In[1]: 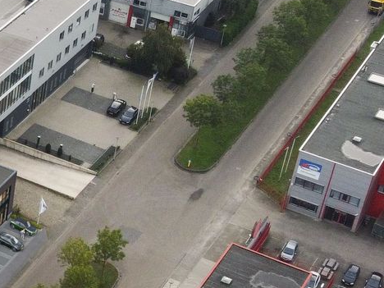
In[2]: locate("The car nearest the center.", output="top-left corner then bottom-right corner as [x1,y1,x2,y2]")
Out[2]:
[119,106,138,126]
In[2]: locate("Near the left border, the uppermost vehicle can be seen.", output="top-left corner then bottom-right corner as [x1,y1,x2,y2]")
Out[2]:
[7,216,38,236]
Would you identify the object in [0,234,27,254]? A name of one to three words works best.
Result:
car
